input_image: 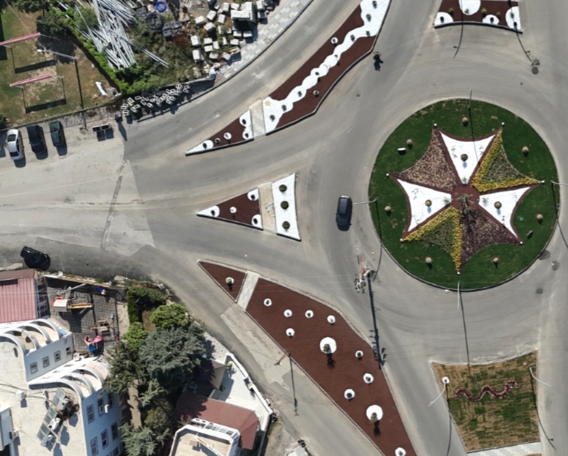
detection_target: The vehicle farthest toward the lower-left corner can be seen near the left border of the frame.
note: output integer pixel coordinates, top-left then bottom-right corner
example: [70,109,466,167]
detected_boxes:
[20,247,53,269]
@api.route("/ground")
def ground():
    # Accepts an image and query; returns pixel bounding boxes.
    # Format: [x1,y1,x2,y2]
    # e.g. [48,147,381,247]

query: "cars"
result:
[335,194,352,230]
[7,128,26,161]
[49,120,68,147]
[20,247,53,269]
[28,121,49,156]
